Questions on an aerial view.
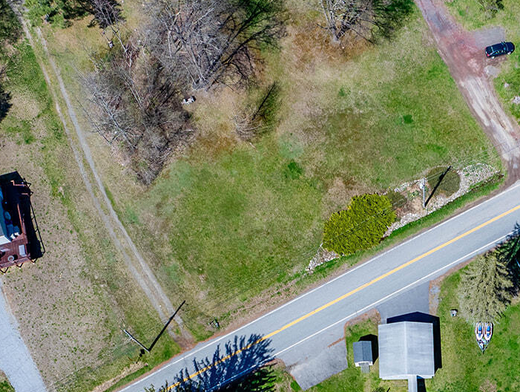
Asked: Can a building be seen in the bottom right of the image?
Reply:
Yes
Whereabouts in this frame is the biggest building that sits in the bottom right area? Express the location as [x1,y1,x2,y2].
[378,321,434,379]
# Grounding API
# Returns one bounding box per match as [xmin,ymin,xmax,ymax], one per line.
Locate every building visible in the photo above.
[353,340,373,371]
[378,321,434,379]
[0,182,32,267]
